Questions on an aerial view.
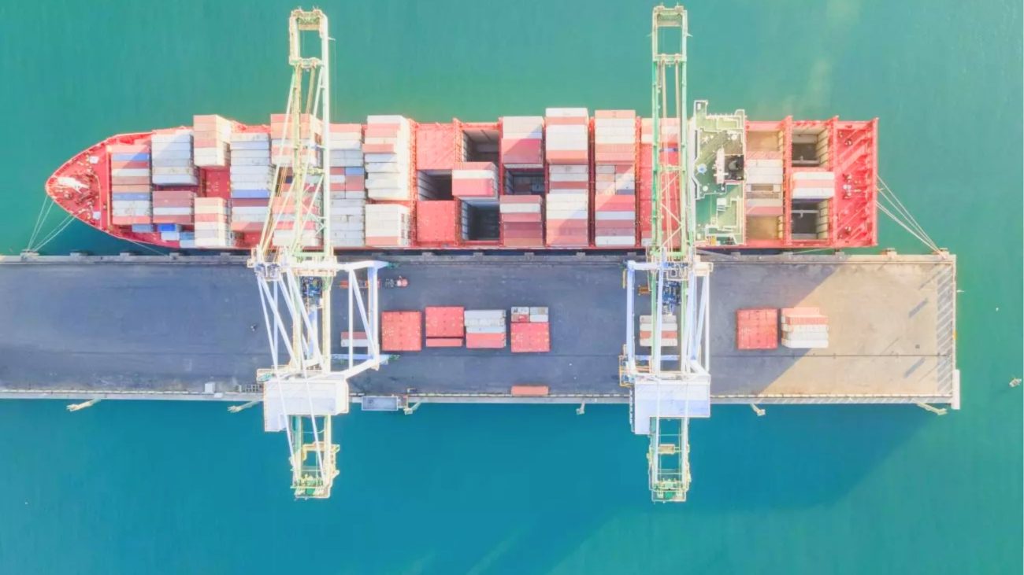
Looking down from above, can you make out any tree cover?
No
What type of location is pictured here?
port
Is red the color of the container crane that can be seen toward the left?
No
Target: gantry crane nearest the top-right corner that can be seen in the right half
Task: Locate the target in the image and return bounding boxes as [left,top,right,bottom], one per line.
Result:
[613,0,712,505]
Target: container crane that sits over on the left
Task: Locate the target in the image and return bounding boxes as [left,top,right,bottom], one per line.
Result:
[240,3,403,501]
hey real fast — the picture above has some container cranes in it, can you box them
[613,0,712,505]
[240,3,403,501]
